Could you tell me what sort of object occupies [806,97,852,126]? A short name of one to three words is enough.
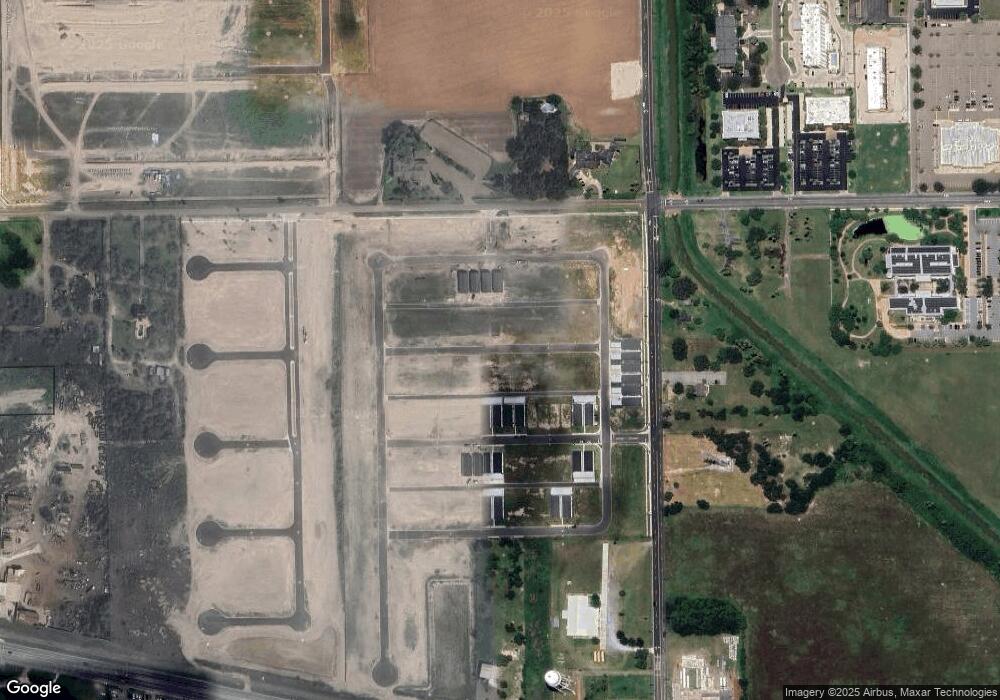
building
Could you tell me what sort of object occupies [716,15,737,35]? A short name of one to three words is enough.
house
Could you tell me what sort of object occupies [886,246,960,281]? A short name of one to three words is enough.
building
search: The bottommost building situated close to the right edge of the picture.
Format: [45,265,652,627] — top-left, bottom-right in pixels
[889,291,960,315]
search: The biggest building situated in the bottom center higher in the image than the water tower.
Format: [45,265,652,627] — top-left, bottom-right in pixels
[562,595,601,637]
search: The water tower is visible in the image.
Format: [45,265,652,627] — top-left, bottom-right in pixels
[544,670,572,694]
